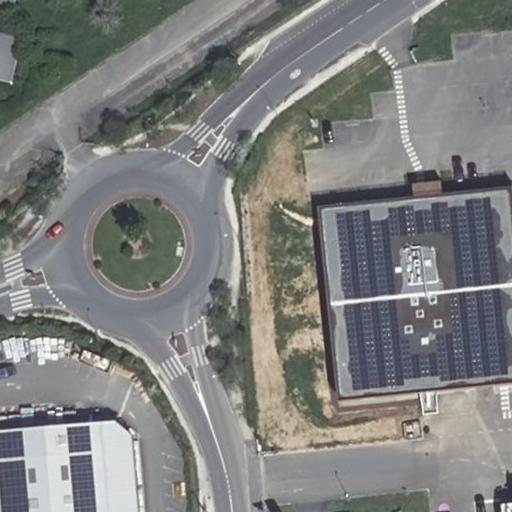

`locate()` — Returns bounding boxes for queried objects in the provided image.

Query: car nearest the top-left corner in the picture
[46,222,66,238]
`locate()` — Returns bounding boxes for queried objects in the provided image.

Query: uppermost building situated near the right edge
[318,180,512,400]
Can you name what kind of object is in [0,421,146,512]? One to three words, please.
building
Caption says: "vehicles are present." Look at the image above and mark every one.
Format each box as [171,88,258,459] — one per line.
[476,496,486,512]
[454,158,464,182]
[468,164,478,184]
[322,120,334,142]
[0,366,16,376]
[46,222,66,238]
